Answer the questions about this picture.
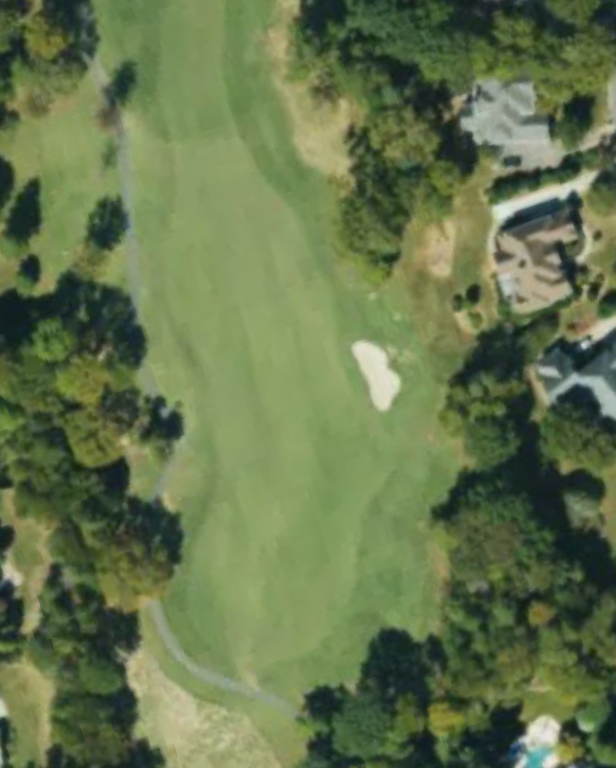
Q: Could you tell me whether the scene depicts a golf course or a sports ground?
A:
golf course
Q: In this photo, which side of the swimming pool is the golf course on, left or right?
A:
to the left of it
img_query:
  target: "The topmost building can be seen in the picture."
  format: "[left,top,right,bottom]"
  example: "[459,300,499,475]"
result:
[460,81,552,146]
